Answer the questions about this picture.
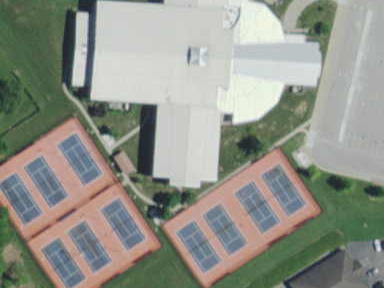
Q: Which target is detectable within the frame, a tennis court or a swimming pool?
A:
tennis court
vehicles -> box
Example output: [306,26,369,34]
[375,240,380,250]
[368,268,378,276]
